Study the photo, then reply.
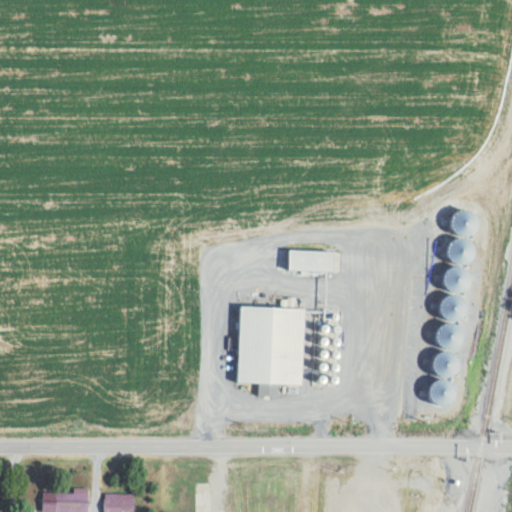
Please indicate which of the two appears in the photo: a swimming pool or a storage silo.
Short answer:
storage silo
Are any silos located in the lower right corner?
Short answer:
Yes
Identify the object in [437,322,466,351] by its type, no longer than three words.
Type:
silo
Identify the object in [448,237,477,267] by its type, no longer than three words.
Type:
silo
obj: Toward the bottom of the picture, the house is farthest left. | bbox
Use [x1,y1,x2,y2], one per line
[42,488,88,512]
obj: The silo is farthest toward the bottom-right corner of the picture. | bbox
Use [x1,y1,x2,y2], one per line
[430,378,458,407]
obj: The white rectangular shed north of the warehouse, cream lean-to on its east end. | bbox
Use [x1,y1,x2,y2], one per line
[288,250,340,272]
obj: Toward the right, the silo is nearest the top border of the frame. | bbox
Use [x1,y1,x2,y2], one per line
[452,208,480,238]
